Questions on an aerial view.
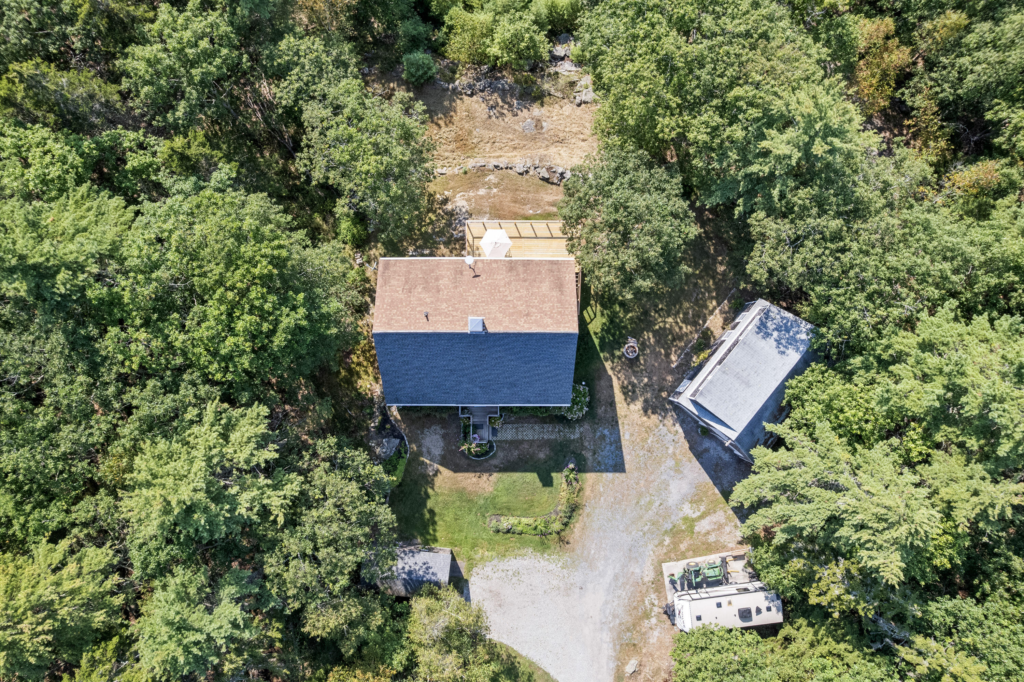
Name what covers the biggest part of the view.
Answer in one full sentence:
The largest share of the image is taken up by trees.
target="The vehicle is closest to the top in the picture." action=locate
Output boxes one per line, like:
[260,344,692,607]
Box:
[670,555,736,587]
